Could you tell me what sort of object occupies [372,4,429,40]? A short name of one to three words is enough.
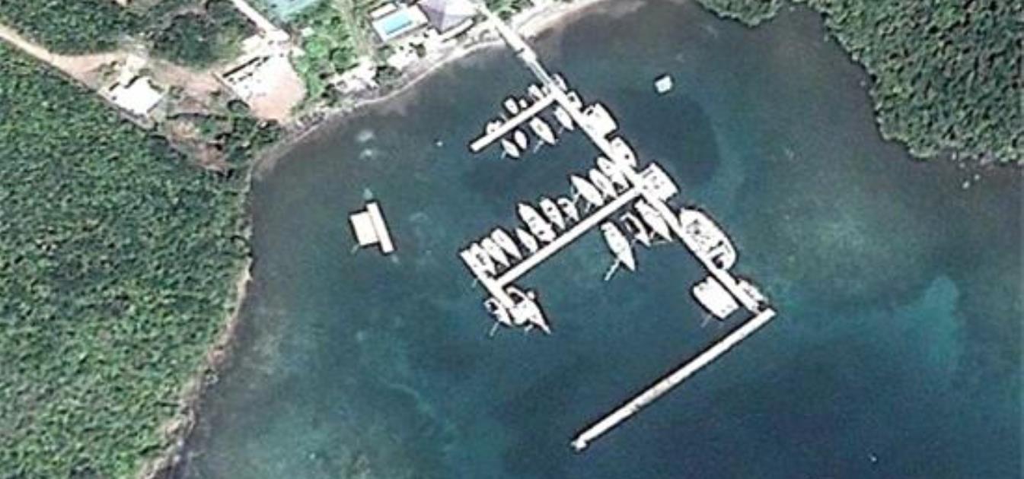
swimming pool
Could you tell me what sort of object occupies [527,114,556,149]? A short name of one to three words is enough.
boat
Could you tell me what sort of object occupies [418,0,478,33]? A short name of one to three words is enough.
building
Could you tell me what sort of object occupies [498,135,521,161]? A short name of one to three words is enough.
boat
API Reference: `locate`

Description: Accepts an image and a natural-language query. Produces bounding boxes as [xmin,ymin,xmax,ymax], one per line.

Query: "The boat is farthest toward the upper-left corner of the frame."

[350,209,378,245]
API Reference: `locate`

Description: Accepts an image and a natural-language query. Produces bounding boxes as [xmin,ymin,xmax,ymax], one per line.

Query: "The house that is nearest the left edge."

[109,76,163,112]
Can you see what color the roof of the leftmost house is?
white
